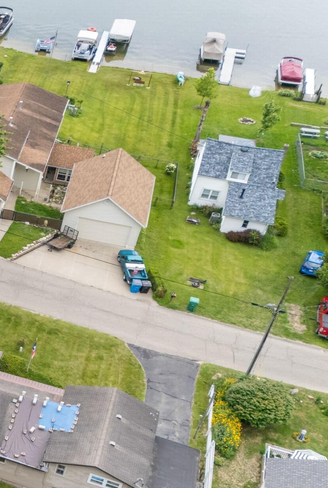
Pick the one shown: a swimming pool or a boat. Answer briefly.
boat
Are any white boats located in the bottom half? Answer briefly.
No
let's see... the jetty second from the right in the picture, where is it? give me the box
[217,38,266,87]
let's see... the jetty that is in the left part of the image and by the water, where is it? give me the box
[88,31,110,74]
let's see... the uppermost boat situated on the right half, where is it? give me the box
[201,30,226,65]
